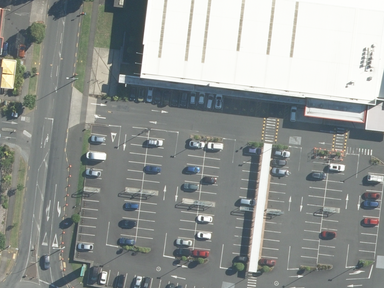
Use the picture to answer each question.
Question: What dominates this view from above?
paved ground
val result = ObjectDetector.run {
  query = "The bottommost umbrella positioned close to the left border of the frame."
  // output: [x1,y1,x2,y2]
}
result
[0,74,15,89]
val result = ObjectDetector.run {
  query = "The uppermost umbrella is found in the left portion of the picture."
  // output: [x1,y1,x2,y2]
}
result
[2,59,17,74]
